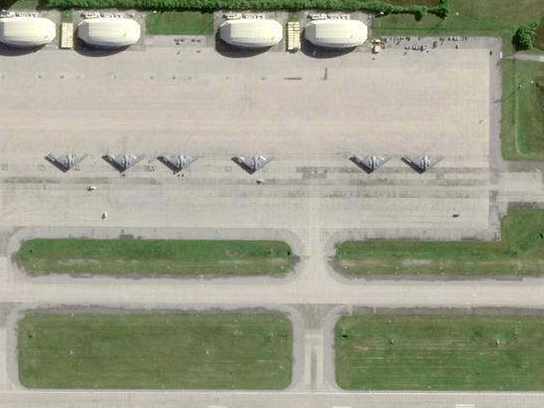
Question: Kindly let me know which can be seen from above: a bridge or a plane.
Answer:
plane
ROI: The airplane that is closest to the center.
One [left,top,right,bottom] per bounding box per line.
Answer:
[236,156,276,172]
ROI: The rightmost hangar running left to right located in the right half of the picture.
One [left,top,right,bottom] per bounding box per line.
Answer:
[304,21,367,52]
